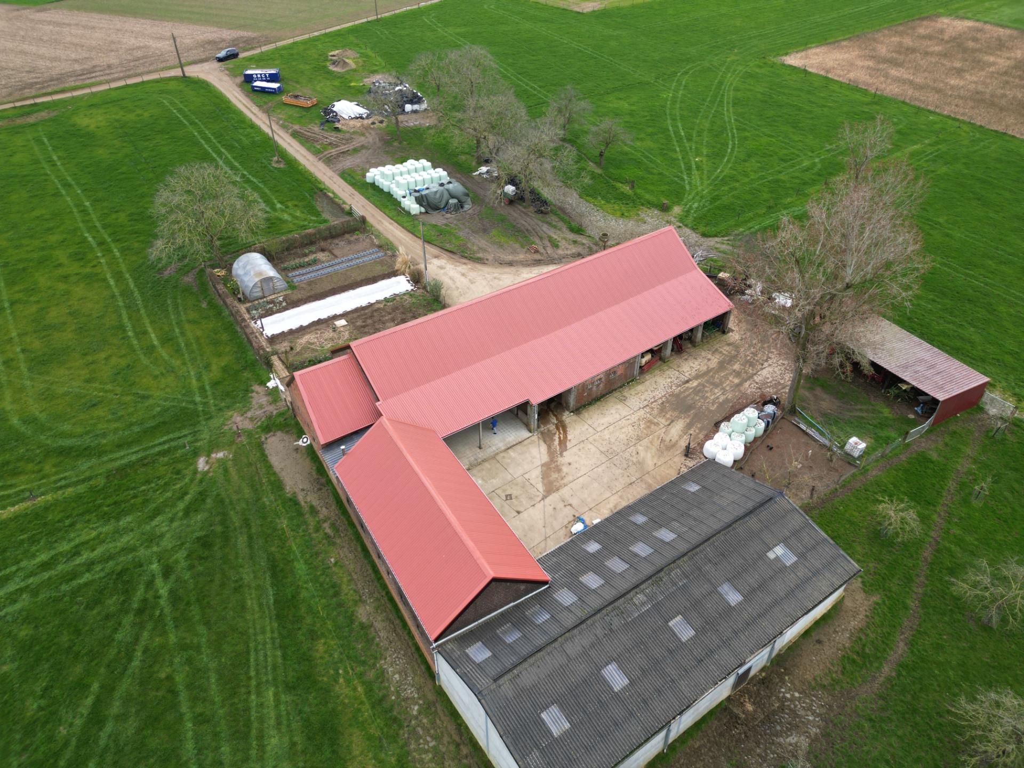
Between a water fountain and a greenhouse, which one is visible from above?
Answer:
greenhouse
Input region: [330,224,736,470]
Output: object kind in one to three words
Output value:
barn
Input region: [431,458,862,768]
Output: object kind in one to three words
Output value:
barn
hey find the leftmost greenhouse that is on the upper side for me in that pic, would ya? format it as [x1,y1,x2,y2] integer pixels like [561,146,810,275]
[230,248,288,299]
